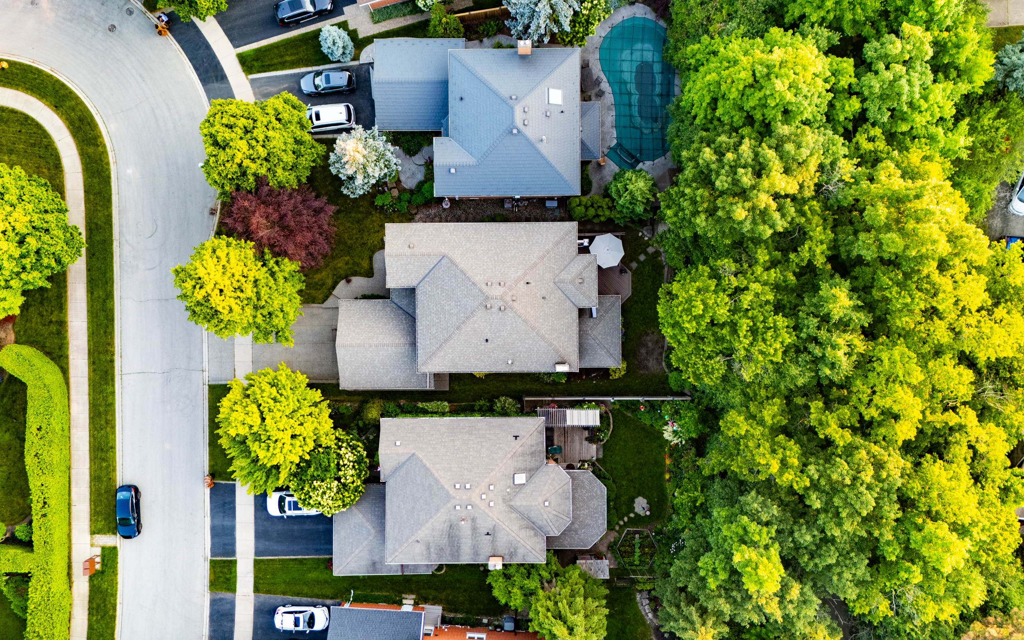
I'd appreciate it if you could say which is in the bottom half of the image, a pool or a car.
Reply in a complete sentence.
There is a car in the bottom half of the image.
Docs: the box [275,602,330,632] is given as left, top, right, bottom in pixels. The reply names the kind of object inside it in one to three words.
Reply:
car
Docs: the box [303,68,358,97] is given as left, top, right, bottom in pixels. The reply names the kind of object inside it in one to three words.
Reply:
car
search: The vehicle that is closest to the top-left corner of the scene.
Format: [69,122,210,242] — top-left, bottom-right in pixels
[274,0,336,28]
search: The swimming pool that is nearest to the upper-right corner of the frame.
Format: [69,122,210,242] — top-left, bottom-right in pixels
[596,12,679,172]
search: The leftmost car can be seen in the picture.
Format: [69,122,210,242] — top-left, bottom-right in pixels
[115,483,145,536]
